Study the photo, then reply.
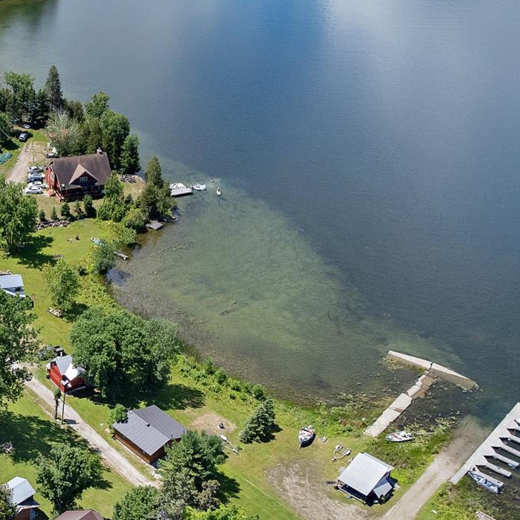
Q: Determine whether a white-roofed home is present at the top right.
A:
No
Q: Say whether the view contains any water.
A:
Yes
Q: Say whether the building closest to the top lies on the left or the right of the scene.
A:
left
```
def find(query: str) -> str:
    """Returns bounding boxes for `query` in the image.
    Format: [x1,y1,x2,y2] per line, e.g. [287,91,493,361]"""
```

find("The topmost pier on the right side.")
[365,351,476,437]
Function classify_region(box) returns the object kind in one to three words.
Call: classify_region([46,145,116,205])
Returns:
building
